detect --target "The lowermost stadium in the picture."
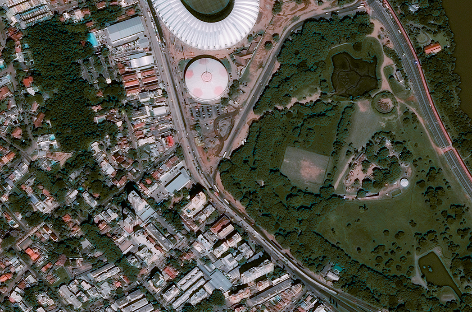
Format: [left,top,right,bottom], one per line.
[184,57,229,103]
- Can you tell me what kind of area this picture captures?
residential area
